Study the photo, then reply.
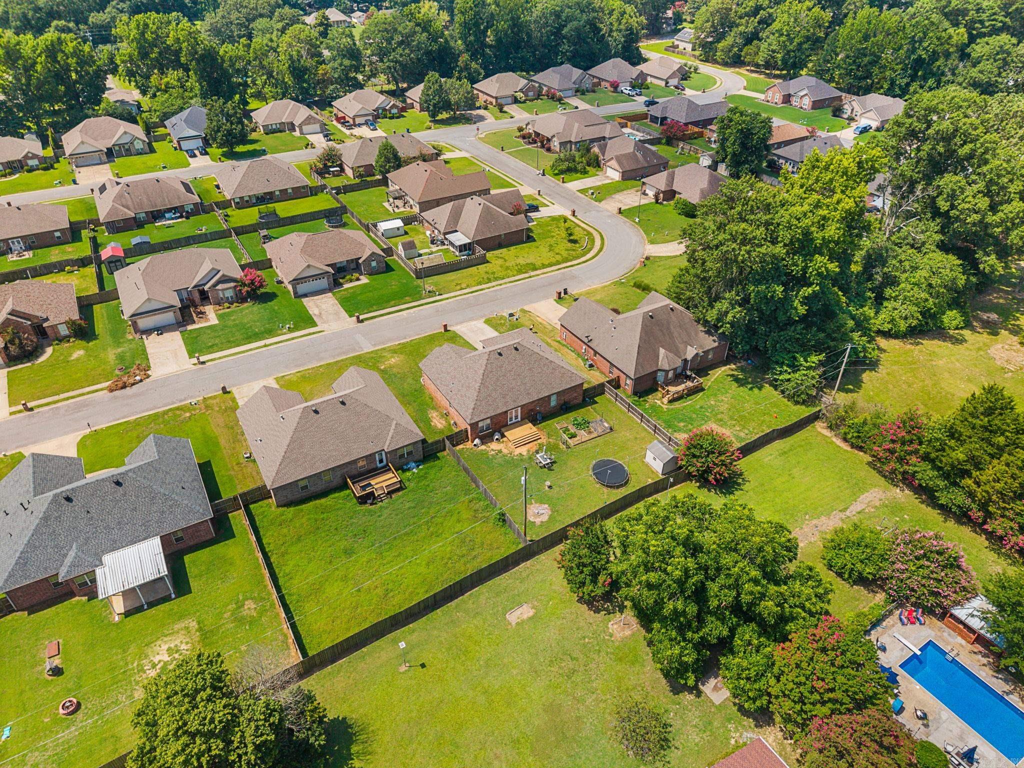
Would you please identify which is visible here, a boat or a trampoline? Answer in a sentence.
There is a trampoline in the scene.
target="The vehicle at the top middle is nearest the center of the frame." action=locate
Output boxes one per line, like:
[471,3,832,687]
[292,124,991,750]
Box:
[524,201,544,213]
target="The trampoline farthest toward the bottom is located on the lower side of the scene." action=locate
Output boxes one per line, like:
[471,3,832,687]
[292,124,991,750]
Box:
[590,448,631,493]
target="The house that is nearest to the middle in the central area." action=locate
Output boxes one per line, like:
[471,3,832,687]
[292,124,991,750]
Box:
[418,323,587,437]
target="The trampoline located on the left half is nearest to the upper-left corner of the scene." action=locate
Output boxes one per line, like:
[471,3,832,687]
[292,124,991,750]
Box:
[256,203,281,222]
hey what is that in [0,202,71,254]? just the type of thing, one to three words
house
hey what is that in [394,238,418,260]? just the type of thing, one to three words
shed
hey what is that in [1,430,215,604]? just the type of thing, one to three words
house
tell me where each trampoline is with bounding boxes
[256,203,281,222]
[590,448,631,493]
[323,207,345,224]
